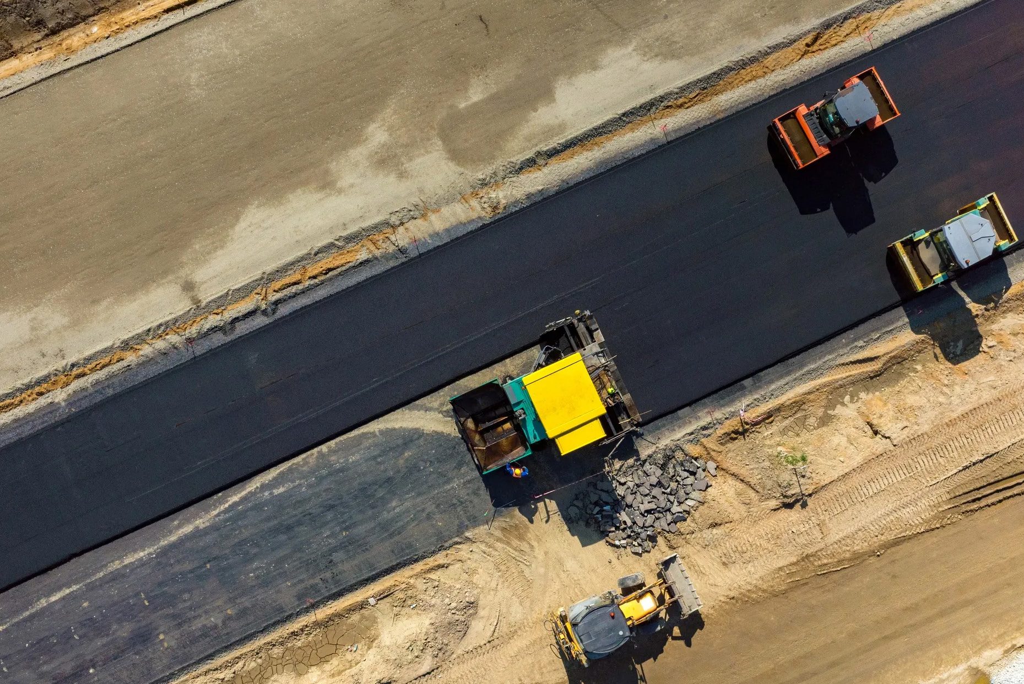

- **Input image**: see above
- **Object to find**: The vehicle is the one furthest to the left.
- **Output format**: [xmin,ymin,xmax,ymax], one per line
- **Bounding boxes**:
[550,548,702,668]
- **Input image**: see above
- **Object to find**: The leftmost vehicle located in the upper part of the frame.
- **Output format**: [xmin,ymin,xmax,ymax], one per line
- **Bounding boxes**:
[768,66,900,169]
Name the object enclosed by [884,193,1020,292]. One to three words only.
work vehicle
